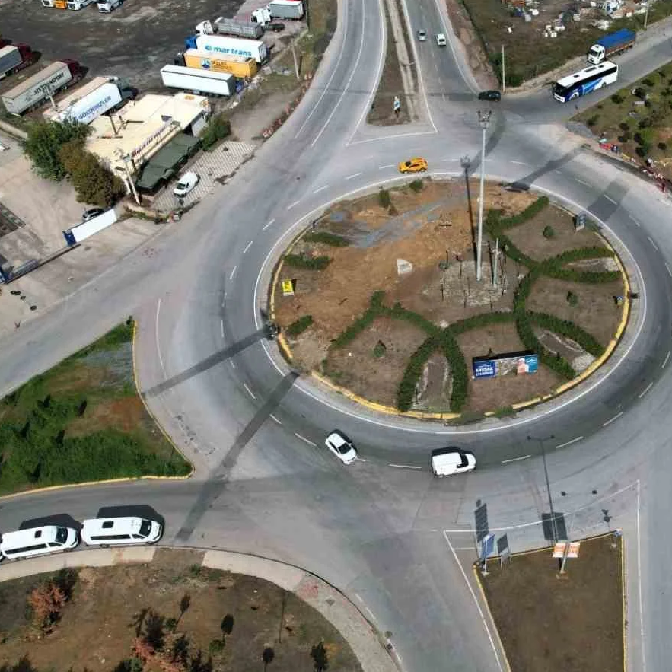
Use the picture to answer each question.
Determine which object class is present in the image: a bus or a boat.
bus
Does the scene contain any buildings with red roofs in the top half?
No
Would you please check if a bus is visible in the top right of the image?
Yes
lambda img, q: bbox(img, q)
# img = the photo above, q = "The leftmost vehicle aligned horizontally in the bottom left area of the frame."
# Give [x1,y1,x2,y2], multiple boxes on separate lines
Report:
[0,528,81,566]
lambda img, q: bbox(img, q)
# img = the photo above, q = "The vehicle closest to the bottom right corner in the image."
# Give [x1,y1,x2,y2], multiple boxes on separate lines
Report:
[432,453,476,479]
